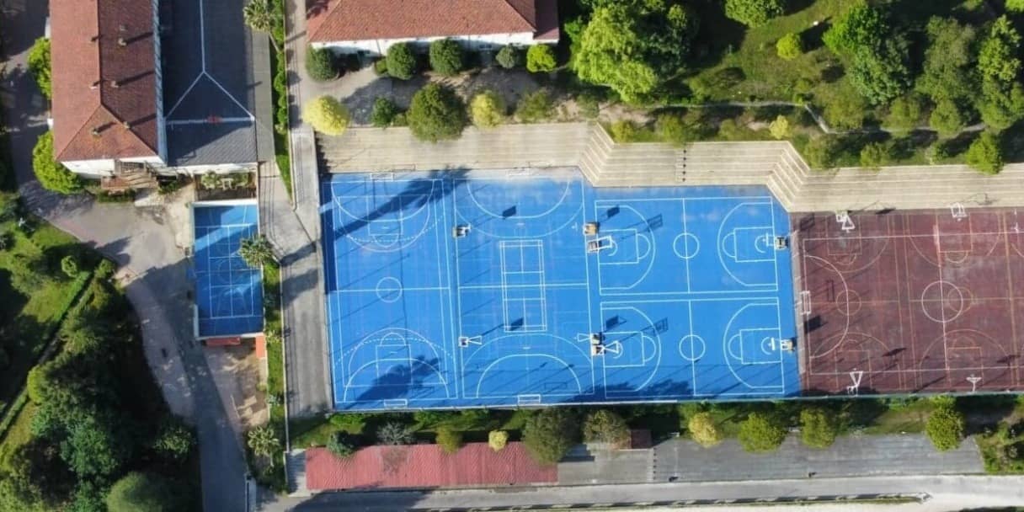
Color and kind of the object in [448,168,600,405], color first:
blue sports court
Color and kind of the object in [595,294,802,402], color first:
blue basketball court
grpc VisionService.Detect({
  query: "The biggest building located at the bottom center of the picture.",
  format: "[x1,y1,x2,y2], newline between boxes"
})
[305,442,558,490]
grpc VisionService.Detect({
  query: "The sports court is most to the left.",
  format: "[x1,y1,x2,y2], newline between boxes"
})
[192,198,267,340]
